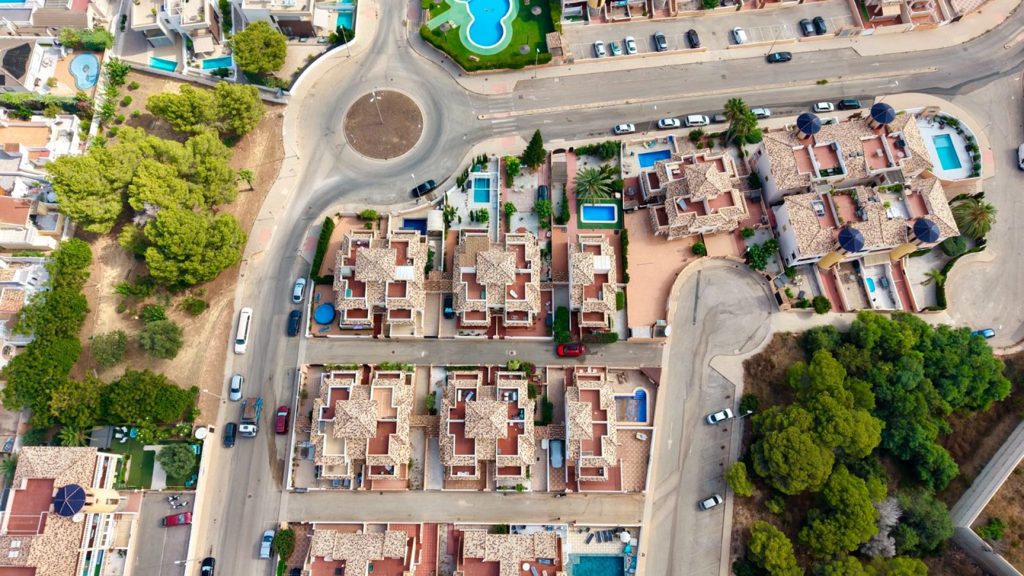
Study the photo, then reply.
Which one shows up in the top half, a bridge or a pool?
pool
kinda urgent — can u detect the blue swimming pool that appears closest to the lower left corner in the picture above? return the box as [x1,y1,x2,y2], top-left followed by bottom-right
[312,303,337,327]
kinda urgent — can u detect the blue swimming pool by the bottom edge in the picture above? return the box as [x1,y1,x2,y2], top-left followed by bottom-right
[570,556,625,576]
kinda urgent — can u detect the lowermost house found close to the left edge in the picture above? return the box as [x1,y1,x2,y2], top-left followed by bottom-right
[0,447,129,576]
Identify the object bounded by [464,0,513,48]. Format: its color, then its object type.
blue swimming pool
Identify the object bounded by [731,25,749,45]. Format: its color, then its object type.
white car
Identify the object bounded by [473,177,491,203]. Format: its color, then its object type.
blue swimming pool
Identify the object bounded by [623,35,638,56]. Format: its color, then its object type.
white car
